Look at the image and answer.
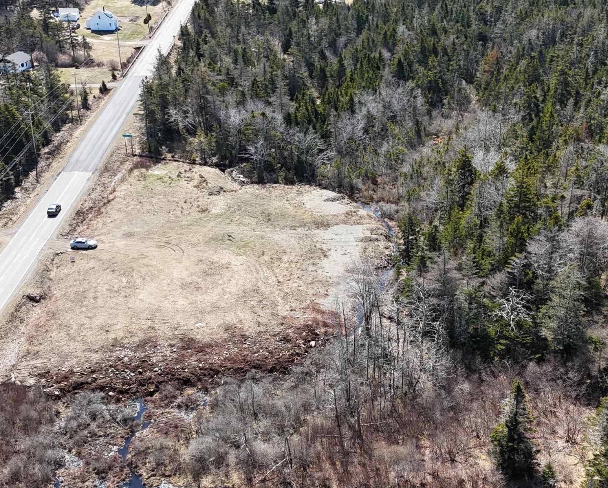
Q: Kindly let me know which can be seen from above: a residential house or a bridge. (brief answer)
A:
residential house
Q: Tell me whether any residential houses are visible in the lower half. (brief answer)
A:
No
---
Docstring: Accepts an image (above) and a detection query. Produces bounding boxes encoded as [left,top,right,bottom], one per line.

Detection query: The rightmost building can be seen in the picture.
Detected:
[86,0,124,31]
